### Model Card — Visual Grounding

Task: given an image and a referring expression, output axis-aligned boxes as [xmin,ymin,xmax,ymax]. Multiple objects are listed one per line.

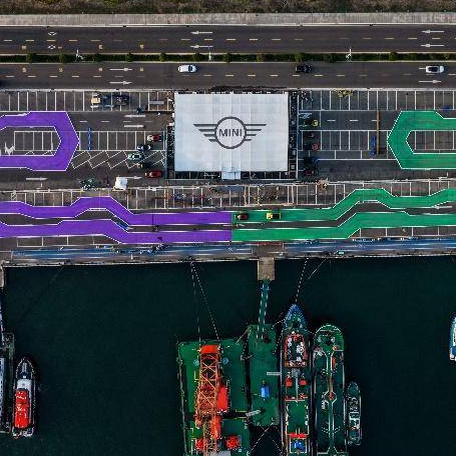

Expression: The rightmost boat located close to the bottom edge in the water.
[347,381,362,443]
